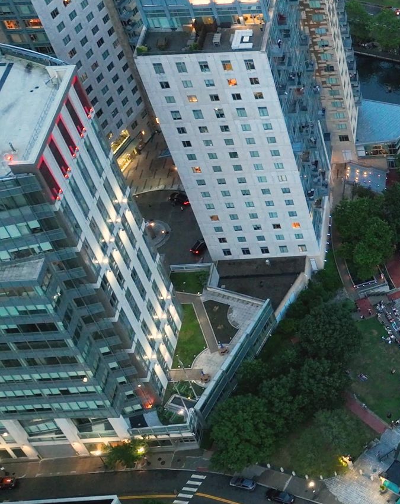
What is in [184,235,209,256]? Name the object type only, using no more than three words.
car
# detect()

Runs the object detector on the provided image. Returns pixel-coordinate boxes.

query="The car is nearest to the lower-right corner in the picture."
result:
[262,485,297,504]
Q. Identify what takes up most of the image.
buildings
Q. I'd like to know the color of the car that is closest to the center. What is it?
black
